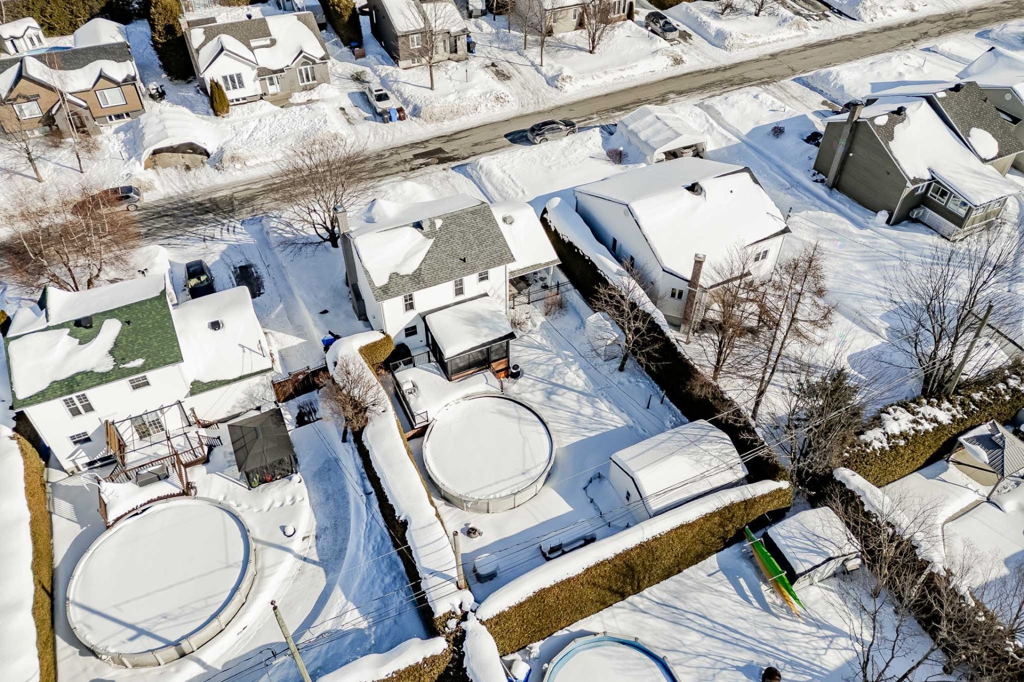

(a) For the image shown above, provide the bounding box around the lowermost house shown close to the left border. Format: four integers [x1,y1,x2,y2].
[2,270,276,466]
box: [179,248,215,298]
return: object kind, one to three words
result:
car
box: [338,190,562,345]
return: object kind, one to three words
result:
house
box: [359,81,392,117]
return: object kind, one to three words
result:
car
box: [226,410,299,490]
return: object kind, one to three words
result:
gazebo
